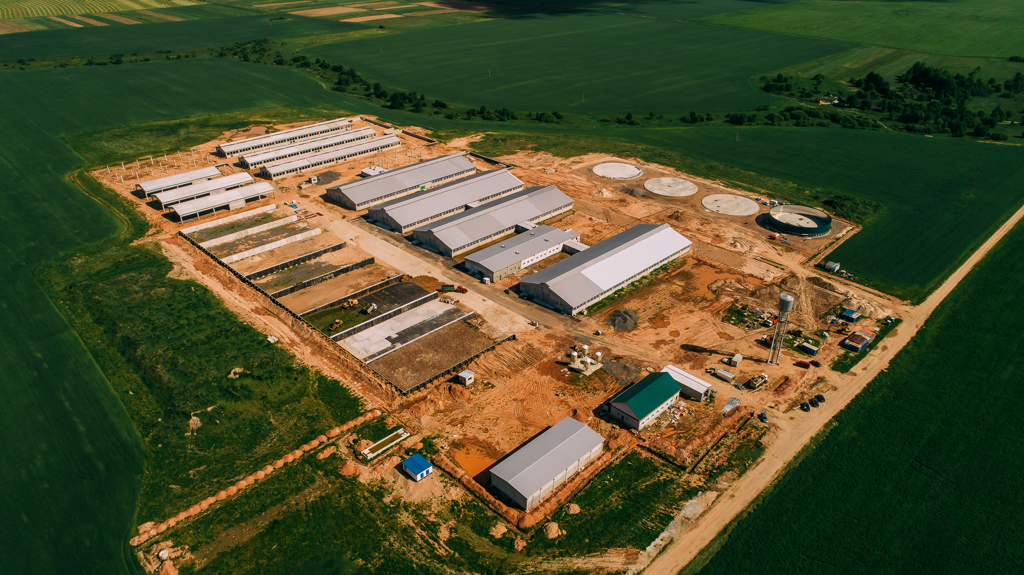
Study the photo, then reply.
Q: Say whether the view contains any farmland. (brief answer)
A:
Yes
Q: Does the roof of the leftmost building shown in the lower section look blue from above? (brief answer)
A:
Yes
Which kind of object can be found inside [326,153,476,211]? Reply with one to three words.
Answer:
barn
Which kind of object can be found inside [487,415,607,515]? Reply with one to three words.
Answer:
building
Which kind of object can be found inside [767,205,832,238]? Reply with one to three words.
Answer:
storage tank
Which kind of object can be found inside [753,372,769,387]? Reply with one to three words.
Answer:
vehicle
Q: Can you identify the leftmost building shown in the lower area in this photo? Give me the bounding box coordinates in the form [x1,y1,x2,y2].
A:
[403,455,433,481]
